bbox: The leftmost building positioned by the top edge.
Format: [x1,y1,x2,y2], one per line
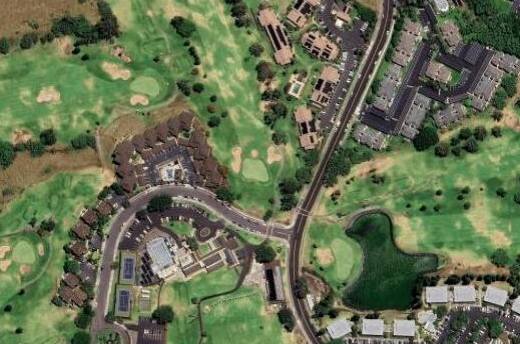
[257,6,294,66]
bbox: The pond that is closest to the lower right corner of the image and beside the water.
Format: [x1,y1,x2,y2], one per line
[344,209,439,312]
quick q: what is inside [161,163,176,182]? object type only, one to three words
swimming pool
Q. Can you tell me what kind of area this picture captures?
golf course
